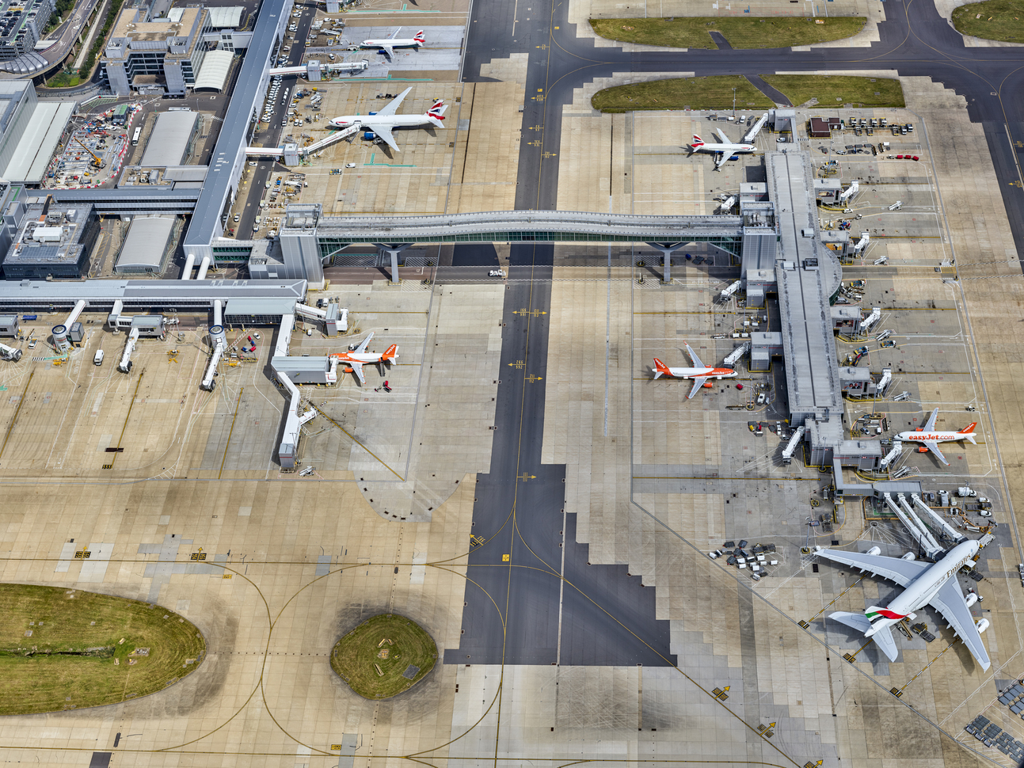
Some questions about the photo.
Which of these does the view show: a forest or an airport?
airport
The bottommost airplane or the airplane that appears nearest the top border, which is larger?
the bottommost airplane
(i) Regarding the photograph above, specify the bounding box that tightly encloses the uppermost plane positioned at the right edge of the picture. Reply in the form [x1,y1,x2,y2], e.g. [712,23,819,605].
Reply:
[894,407,980,463]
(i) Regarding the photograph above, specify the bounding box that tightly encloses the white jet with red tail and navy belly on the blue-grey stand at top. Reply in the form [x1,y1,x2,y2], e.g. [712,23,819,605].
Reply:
[360,25,425,59]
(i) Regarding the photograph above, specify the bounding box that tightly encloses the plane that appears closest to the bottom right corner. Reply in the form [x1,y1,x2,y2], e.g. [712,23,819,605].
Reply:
[815,538,994,663]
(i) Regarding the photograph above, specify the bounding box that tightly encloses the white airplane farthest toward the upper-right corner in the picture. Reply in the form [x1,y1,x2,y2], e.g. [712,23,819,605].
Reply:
[689,128,757,167]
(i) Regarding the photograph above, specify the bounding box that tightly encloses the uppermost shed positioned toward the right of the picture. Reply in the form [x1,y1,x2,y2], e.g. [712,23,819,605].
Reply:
[806,117,841,140]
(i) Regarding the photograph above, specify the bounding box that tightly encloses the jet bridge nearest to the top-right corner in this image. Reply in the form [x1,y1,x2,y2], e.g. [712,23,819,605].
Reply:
[839,179,859,211]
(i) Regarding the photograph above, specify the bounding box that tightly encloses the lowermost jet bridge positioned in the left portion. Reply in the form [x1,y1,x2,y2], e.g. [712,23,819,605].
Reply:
[301,407,323,436]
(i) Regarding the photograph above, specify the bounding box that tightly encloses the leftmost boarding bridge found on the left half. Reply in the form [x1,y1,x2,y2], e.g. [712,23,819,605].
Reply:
[0,340,22,362]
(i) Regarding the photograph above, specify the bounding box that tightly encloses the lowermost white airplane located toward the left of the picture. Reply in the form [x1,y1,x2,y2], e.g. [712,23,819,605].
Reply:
[328,332,399,379]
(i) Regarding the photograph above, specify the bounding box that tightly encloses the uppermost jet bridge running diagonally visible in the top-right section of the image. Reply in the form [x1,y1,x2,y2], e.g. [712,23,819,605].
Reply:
[743,113,769,145]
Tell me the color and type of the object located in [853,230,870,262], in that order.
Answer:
white jet bridge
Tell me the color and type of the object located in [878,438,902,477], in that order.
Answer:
white jet bridge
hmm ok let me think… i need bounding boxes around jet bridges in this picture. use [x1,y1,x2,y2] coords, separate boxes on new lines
[721,340,751,370]
[202,340,223,393]
[0,340,22,362]
[720,194,738,217]
[839,179,859,211]
[878,438,902,477]
[324,354,341,392]
[874,365,892,401]
[859,305,881,340]
[719,280,743,303]
[324,59,370,78]
[909,494,967,545]
[336,305,351,339]
[119,328,140,373]
[743,113,769,145]
[780,425,805,464]
[881,494,943,562]
[895,494,949,558]
[301,407,323,436]
[853,230,870,262]
[302,120,365,164]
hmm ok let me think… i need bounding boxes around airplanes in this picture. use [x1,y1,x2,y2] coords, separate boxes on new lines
[651,342,738,397]
[689,128,757,167]
[329,89,447,149]
[815,538,994,663]
[328,332,399,379]
[894,407,980,463]
[360,25,425,59]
